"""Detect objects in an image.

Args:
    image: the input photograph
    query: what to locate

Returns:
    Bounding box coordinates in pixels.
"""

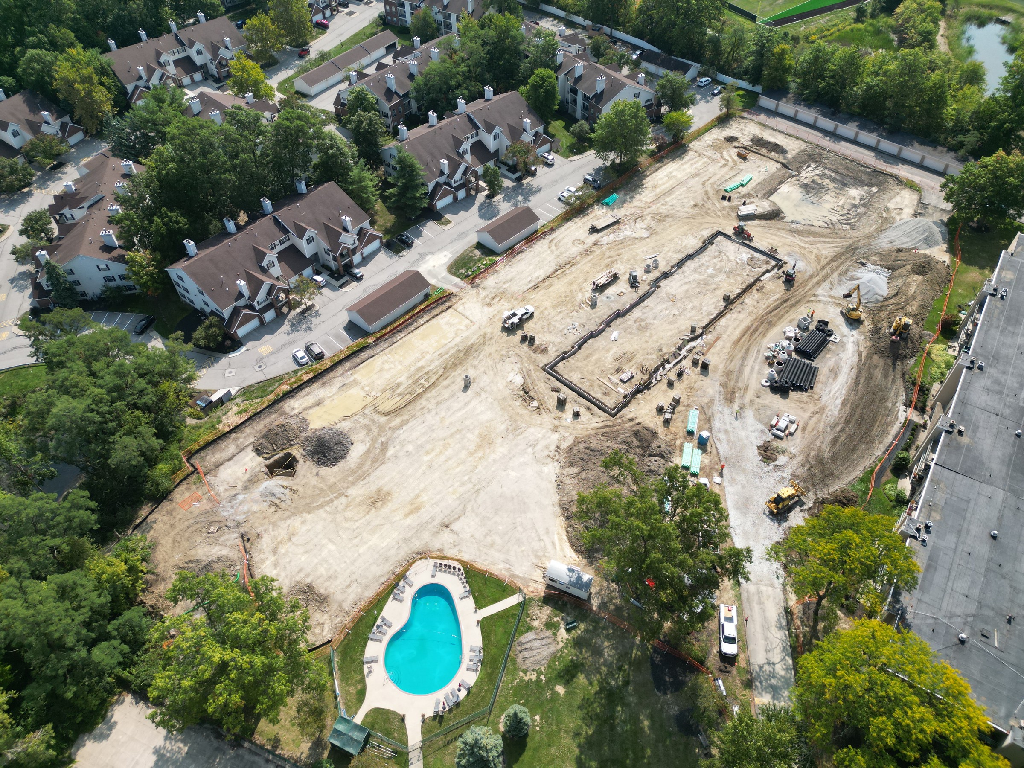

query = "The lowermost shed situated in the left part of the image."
[328,716,370,757]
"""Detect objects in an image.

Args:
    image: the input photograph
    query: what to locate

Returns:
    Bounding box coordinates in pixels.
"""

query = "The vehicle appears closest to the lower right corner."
[719,603,738,655]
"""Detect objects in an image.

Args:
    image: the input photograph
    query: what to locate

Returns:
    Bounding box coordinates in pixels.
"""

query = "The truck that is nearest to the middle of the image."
[502,306,534,328]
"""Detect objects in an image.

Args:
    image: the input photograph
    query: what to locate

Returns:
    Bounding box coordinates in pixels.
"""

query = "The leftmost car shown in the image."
[132,314,158,334]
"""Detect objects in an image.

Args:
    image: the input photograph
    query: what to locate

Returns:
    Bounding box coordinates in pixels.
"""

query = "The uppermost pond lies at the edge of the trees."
[964,23,1012,88]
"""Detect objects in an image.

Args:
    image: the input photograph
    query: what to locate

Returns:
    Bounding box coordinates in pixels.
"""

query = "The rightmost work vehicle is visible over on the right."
[893,316,915,343]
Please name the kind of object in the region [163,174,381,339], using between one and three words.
house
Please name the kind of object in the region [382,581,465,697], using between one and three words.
swimming pool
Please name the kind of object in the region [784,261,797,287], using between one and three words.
vehicle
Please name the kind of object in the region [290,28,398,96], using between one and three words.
building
